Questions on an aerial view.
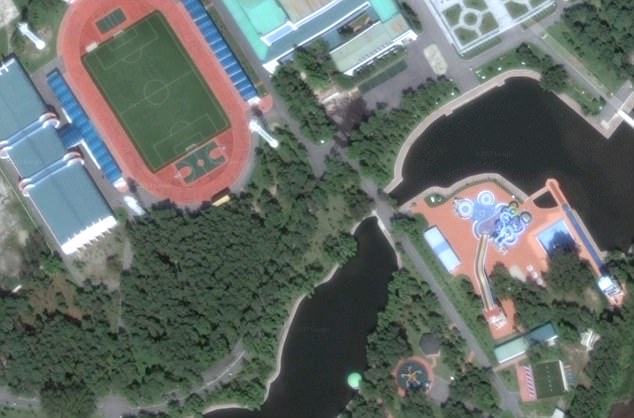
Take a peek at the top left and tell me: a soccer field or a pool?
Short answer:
soccer field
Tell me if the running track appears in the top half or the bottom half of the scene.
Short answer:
top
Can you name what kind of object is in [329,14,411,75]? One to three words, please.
building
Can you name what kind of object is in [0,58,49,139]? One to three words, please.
building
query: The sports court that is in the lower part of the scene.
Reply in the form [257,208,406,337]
[534,360,567,399]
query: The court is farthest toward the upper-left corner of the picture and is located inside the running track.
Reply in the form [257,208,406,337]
[93,6,129,35]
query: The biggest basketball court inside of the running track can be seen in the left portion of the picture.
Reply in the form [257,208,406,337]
[175,141,225,183]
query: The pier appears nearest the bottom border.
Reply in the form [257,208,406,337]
[527,175,570,207]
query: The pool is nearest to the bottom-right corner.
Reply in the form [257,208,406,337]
[537,220,575,256]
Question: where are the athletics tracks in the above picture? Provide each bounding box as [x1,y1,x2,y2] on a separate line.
[55,0,256,209]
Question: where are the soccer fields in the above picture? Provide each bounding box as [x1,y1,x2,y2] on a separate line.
[80,9,231,173]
